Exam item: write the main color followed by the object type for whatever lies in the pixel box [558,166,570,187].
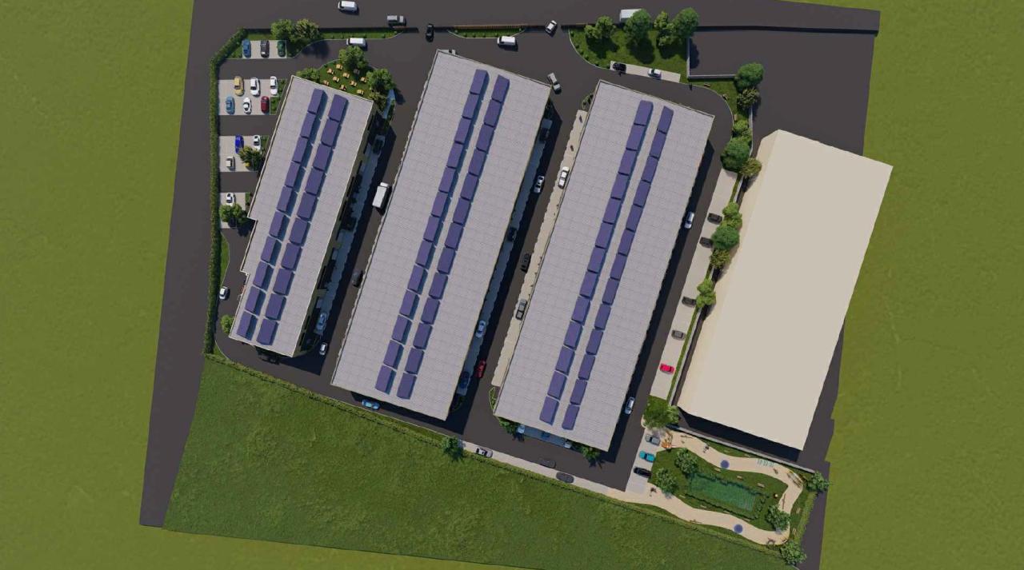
white vehicle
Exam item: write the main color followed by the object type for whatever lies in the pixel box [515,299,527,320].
gray vehicle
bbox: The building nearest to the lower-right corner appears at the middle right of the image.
[678,130,893,450]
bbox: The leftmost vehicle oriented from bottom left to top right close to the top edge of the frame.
[545,19,557,35]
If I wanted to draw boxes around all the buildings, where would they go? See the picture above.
[678,130,893,450]
[229,76,381,357]
[495,80,714,451]
[331,50,551,421]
